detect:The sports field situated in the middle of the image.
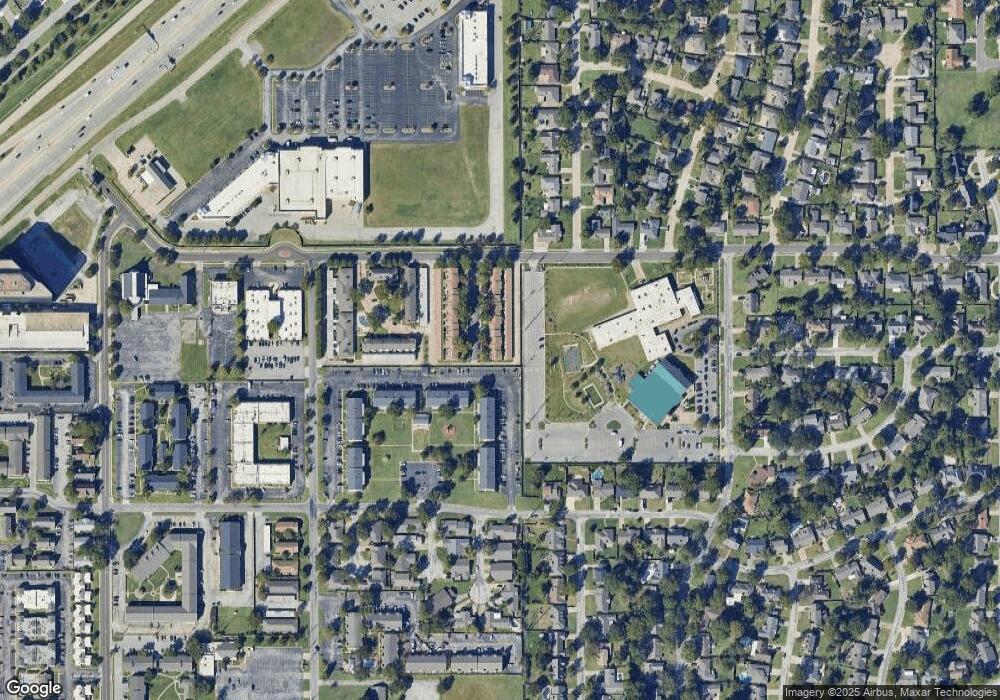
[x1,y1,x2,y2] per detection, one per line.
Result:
[548,270,630,328]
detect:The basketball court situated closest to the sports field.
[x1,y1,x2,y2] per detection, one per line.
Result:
[562,343,583,372]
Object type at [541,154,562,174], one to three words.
house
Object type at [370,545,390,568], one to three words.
house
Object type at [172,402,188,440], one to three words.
building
